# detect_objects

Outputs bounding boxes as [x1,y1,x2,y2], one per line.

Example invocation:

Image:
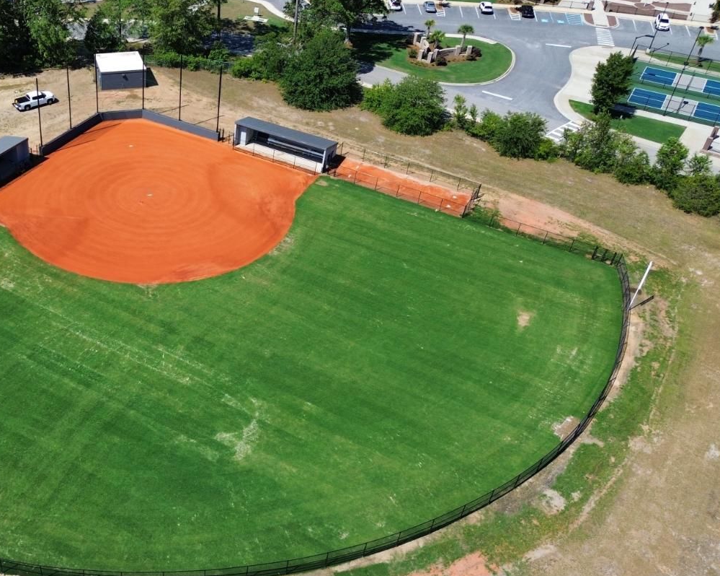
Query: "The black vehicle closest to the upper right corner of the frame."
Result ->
[520,2,536,18]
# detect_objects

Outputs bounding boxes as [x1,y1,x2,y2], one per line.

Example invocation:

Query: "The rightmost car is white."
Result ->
[655,13,672,30]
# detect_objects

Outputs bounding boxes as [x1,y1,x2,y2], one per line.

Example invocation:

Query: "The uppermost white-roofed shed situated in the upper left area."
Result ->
[94,51,148,90]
